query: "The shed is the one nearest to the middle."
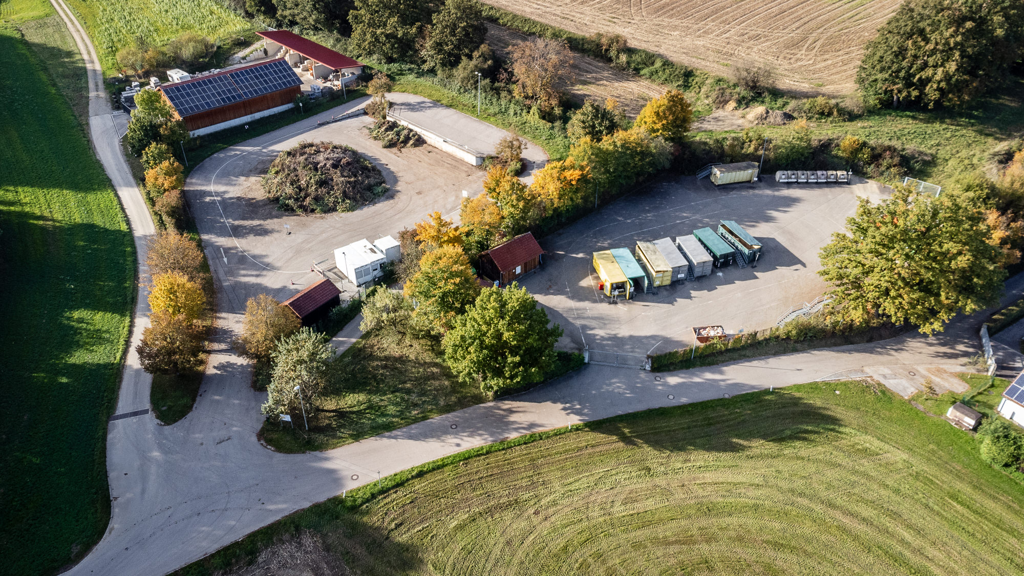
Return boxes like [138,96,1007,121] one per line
[480,232,544,285]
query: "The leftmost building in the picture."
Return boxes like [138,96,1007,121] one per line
[152,57,303,135]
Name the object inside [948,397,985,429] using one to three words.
shed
